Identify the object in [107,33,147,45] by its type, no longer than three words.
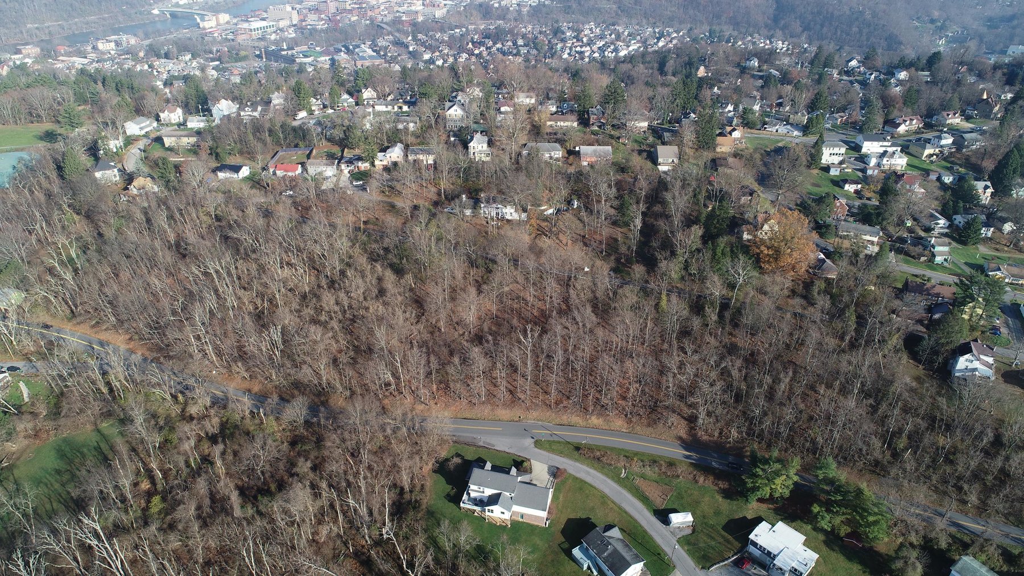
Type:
building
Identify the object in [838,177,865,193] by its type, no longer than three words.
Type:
house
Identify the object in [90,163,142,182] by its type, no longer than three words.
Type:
house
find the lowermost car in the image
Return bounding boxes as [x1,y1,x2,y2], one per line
[737,552,752,572]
